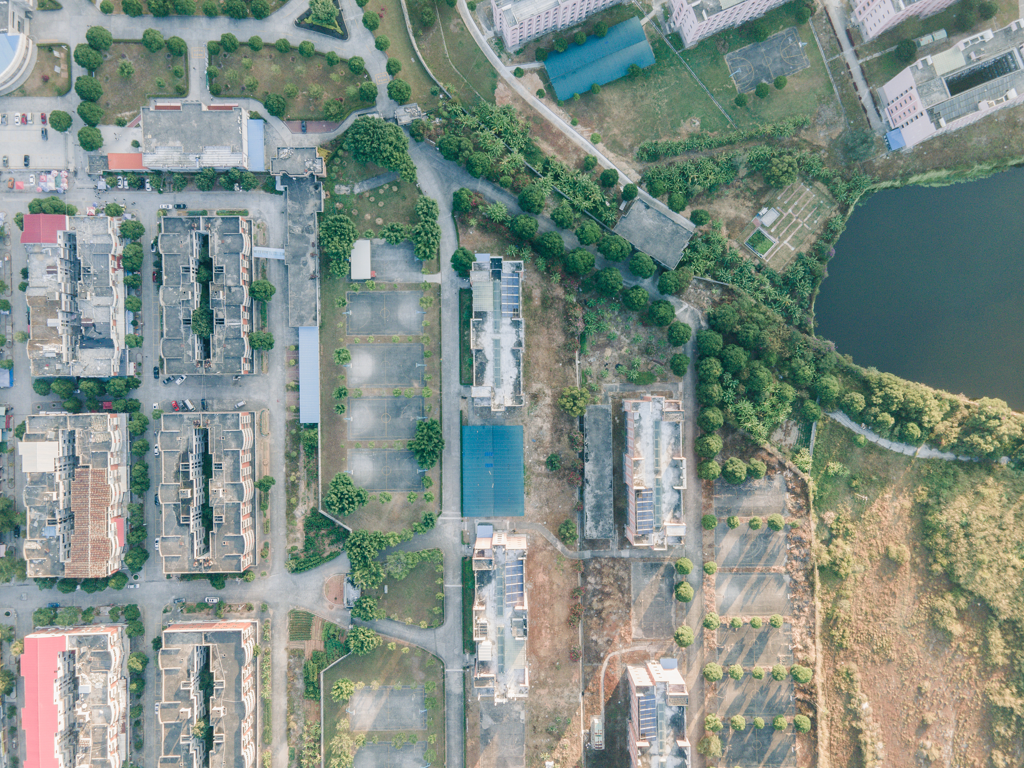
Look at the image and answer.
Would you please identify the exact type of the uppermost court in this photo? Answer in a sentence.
The uppermost court can be classified as a basketball court.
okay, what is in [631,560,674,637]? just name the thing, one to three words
sports court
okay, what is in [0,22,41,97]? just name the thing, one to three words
building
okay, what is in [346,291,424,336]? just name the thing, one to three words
basketball court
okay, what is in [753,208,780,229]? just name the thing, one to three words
shed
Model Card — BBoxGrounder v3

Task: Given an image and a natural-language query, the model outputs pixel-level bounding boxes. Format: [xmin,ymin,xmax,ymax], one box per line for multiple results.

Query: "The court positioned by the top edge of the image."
[724,27,810,93]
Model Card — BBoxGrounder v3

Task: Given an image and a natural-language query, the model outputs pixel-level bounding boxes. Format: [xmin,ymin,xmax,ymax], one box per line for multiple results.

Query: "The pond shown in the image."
[816,169,1024,413]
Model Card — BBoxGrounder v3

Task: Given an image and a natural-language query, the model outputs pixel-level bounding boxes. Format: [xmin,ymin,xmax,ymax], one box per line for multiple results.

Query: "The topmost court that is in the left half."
[346,238,424,284]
